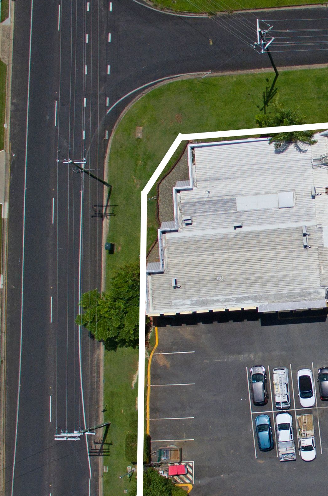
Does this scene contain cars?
Yes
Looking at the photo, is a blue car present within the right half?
Yes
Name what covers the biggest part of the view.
paved ground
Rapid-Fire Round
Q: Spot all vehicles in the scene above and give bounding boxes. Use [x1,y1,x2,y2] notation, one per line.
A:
[275,411,297,464]
[249,364,270,406]
[296,368,316,408]
[272,367,292,409]
[296,413,317,462]
[253,413,275,452]
[316,367,328,401]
